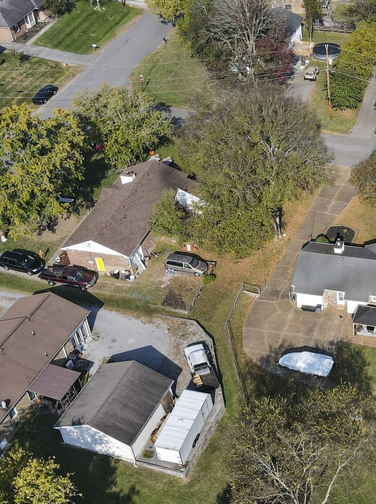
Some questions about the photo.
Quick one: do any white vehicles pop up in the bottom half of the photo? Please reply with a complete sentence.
Yes, I can see a white vehicle in the bottom half of the photo.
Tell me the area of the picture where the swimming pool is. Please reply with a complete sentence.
The swimming pool appears toward the top right of the photo.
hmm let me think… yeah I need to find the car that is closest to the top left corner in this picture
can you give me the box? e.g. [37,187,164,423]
[32,83,58,100]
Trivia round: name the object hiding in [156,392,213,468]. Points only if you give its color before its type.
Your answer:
white trailer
